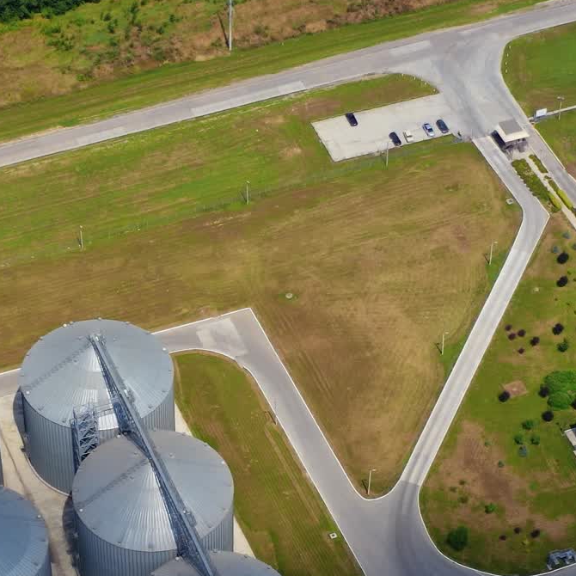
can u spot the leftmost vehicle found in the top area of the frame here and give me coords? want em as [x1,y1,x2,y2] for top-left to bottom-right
[346,111,359,126]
